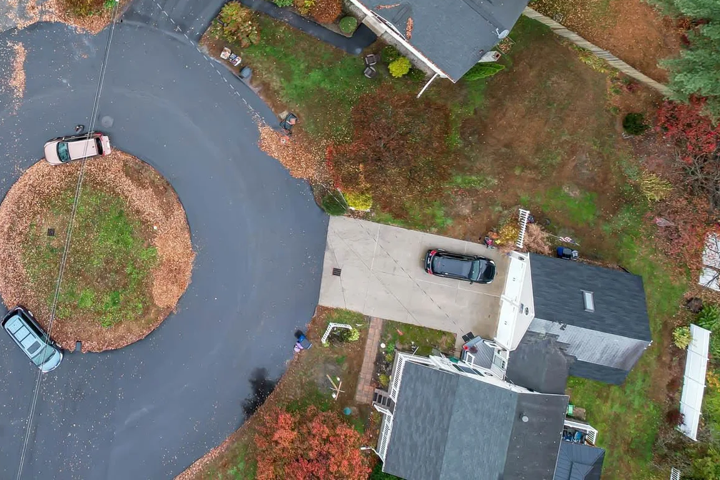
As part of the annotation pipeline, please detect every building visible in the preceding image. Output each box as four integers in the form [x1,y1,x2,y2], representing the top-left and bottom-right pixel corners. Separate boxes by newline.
[349,0,529,96]
[341,251,654,480]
